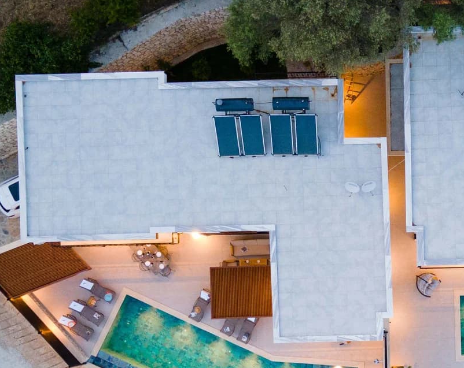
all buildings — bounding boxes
[402,25,464,268]
[16,71,394,343]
